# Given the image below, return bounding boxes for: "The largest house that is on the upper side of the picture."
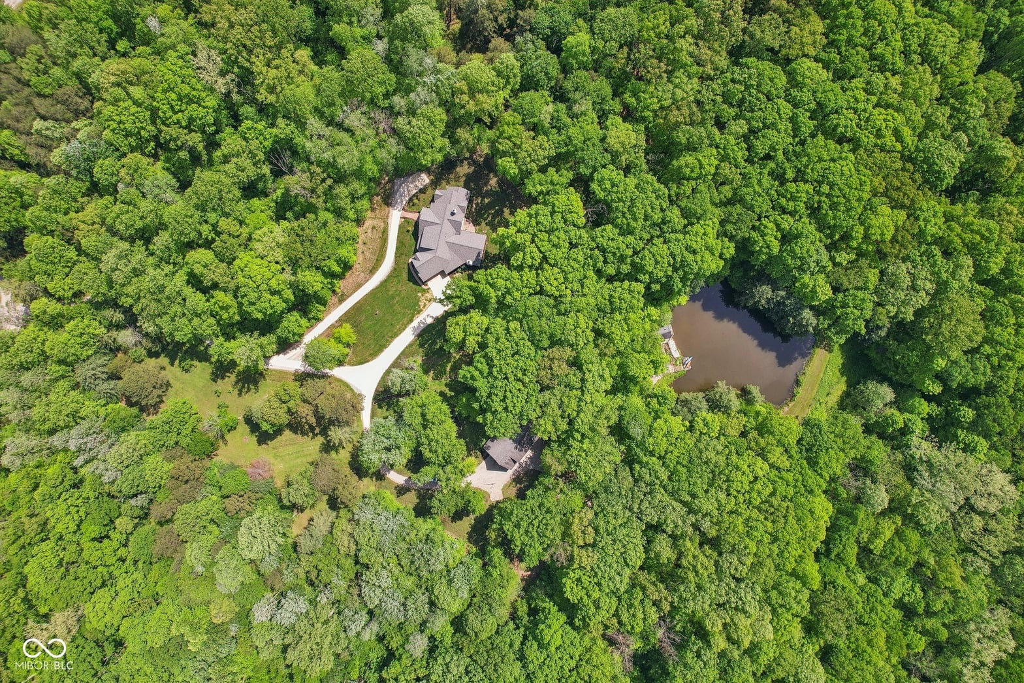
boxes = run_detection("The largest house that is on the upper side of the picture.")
[410,184,488,283]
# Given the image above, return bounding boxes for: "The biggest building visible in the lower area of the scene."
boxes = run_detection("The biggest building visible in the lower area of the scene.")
[486,424,534,470]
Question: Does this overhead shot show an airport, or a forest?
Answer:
forest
